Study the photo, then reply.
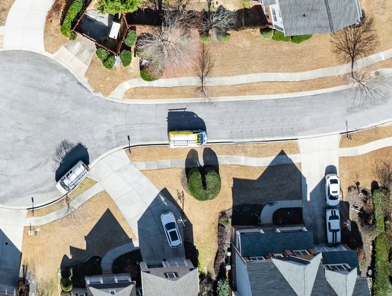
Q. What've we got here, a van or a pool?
van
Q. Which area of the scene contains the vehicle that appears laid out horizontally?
center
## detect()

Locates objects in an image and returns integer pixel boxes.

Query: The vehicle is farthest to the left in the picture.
[54,158,93,195]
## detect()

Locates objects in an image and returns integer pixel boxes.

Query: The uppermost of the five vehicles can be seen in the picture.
[167,128,208,148]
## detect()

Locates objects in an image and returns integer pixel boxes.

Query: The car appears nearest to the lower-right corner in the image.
[323,208,342,243]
